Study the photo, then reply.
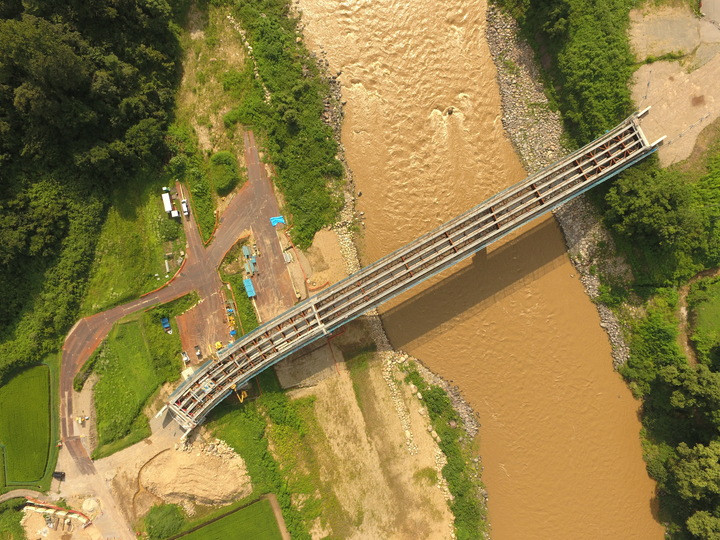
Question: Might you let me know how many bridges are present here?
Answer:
1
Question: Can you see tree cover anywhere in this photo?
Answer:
Yes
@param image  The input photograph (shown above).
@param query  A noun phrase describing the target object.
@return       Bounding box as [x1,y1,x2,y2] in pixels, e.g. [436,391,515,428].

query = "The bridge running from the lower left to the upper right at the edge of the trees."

[157,105,667,438]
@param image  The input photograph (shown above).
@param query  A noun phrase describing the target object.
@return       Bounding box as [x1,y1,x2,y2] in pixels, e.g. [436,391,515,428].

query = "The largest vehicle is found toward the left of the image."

[158,185,171,213]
